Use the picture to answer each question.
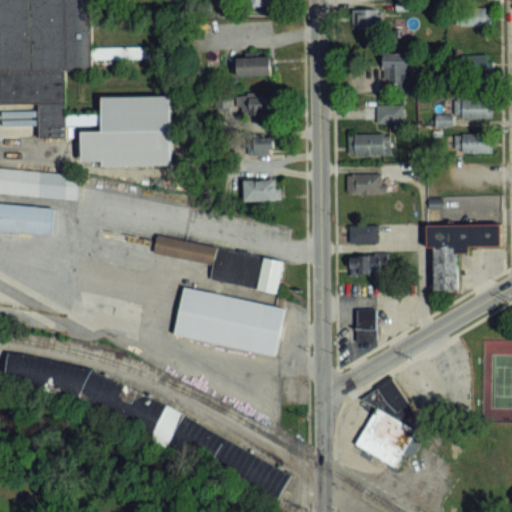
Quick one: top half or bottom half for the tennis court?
bottom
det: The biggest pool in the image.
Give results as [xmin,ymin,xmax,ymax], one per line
[407,16,422,30]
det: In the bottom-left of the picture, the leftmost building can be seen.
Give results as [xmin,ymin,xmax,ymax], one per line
[2,351,94,396]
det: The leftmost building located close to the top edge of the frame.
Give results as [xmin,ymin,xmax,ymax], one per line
[0,0,92,138]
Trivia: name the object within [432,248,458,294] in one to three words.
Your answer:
building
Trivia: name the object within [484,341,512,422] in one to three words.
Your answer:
tennis court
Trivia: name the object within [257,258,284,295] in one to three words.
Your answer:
shed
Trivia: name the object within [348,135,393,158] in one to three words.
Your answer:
house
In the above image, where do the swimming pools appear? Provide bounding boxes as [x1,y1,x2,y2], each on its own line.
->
[434,104,446,114]
[407,16,422,30]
